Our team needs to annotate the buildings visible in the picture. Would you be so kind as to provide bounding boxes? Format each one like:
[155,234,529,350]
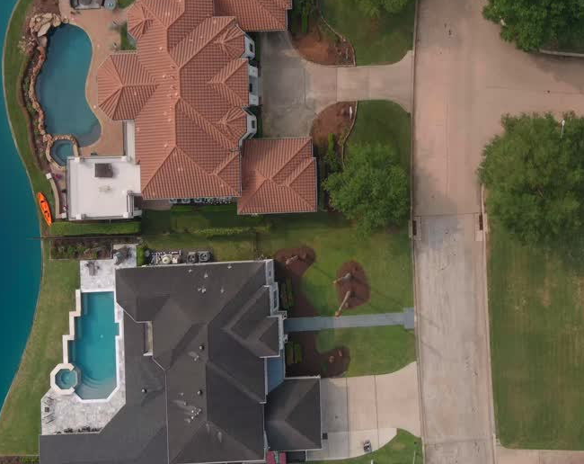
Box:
[39,256,323,464]
[67,0,318,218]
